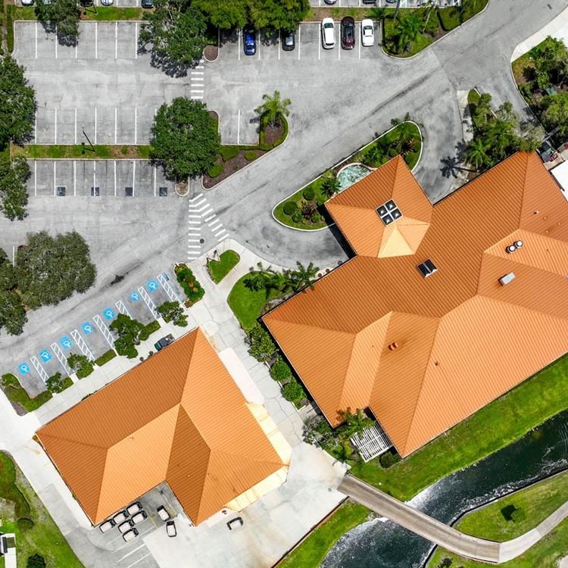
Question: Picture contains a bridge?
Yes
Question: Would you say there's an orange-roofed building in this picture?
Yes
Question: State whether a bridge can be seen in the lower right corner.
Yes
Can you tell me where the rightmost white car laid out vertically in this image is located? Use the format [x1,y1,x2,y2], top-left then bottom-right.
[360,17,375,50]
